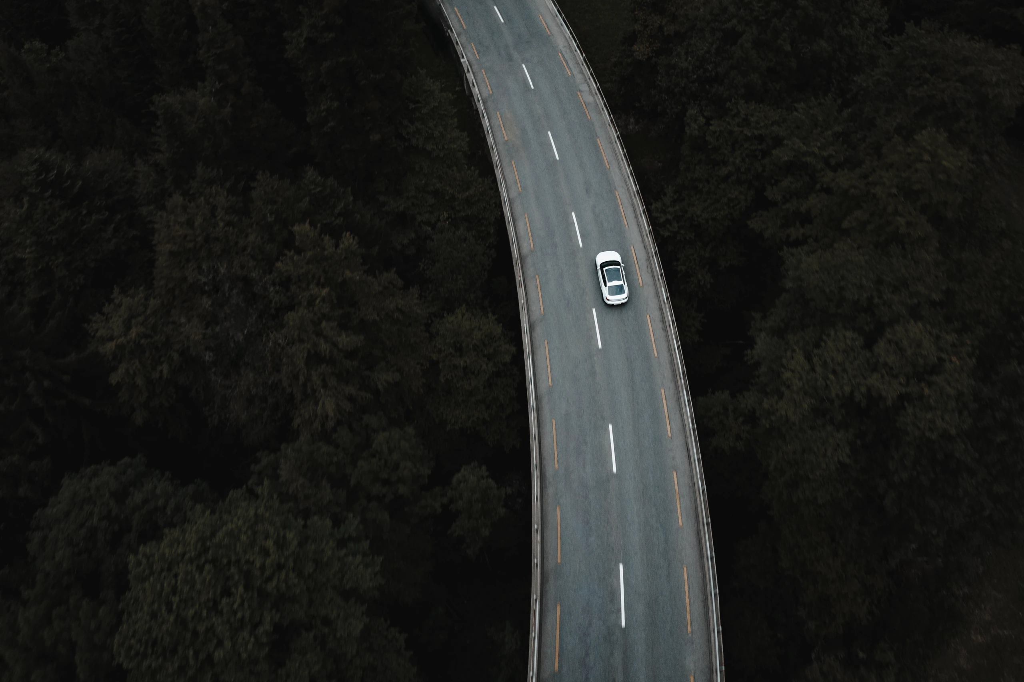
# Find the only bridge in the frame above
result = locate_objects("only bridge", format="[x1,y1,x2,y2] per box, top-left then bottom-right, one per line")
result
[439,0,726,682]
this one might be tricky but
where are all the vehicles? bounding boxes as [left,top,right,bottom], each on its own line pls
[595,251,629,307]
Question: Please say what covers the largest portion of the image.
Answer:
trees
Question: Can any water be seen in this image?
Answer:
No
